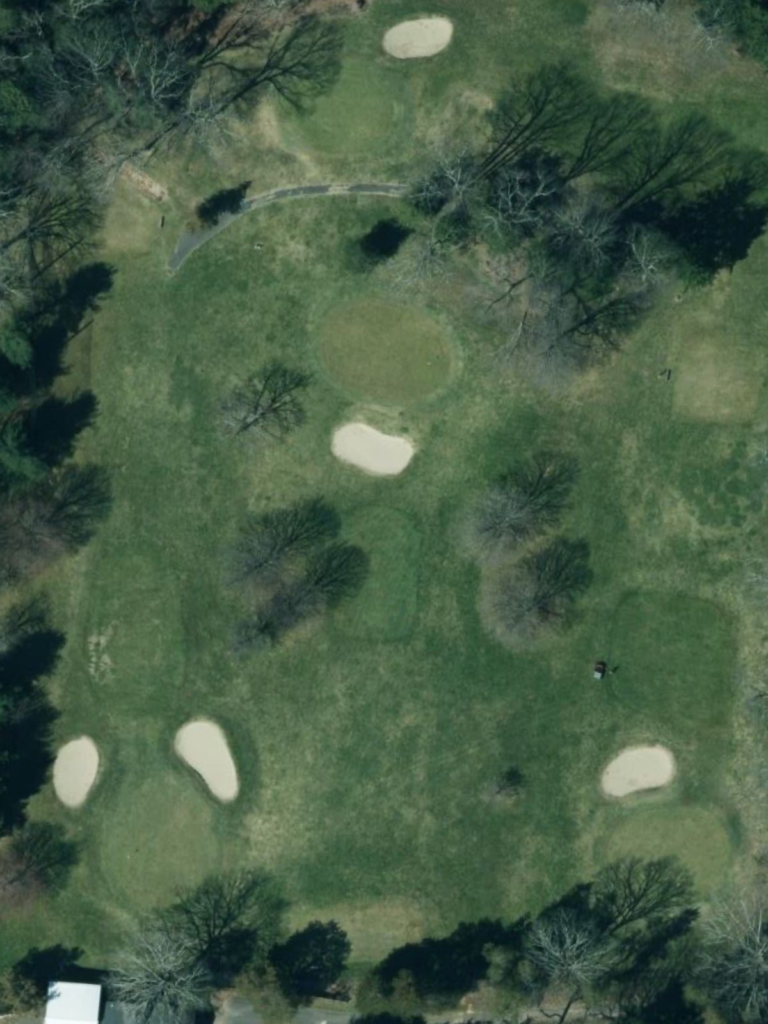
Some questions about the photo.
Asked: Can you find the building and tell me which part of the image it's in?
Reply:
bottom left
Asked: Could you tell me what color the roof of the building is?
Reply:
white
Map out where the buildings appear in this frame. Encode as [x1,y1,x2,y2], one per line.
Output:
[46,984,101,1024]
